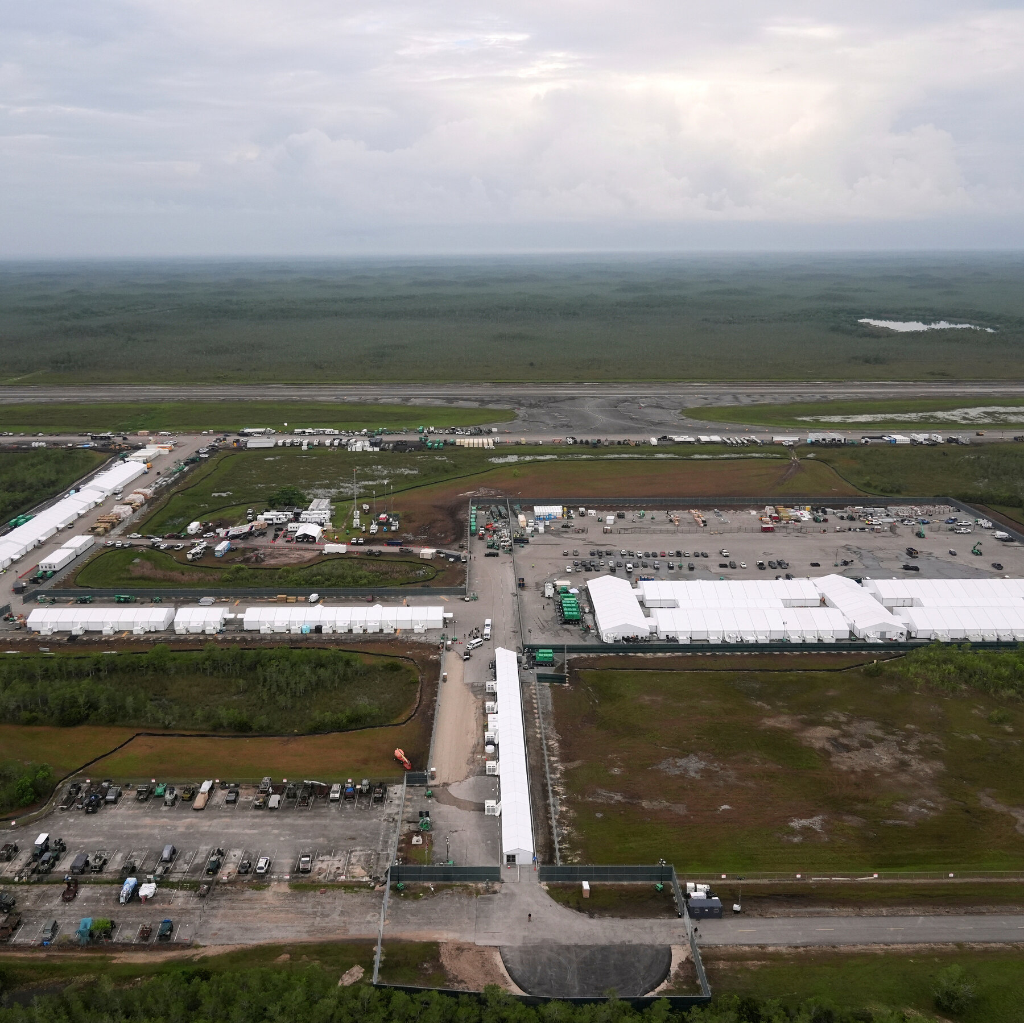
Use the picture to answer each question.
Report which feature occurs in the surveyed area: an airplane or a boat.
boat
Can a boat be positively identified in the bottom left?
Yes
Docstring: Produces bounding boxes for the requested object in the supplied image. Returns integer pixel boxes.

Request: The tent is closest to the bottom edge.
[494,647,533,866]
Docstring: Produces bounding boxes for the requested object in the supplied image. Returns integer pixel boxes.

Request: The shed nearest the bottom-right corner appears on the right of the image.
[685,890,728,921]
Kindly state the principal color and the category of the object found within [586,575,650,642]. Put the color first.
white tent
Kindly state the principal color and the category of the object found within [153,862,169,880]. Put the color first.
gray boat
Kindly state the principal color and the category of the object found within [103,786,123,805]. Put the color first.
gray vehicle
